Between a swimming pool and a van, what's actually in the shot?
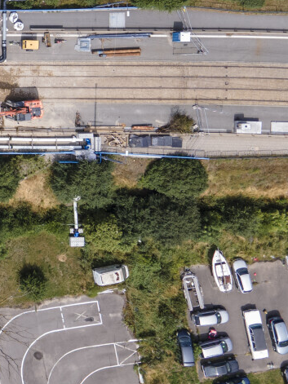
van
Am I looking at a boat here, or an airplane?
boat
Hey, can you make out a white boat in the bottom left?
No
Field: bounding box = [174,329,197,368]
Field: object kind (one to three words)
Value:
car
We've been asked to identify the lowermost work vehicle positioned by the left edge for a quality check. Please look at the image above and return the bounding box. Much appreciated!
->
[0,98,46,123]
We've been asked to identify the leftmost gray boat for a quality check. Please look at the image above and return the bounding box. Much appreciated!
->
[181,264,204,312]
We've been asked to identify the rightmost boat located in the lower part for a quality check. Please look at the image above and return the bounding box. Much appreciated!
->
[210,244,233,293]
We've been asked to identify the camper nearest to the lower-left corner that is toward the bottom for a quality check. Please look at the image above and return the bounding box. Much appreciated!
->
[88,261,126,285]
